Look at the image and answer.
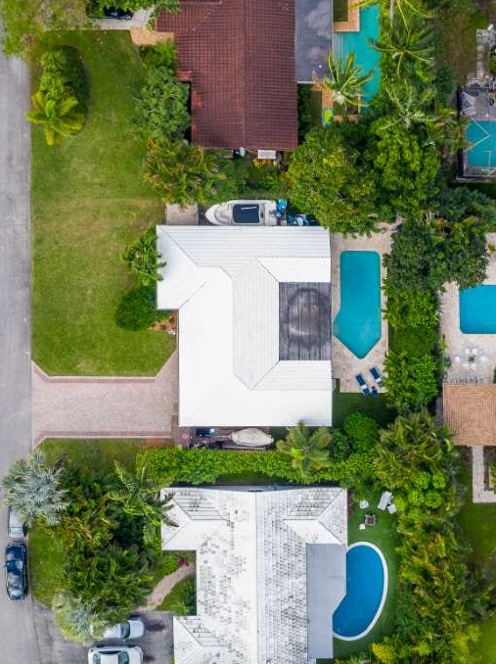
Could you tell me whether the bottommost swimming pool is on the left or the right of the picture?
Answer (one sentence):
The bottommost swimming pool appears in the right half of the scene.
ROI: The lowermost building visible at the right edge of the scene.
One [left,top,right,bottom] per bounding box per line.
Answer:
[440,381,496,447]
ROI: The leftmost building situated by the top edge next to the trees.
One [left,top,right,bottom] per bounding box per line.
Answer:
[154,0,334,152]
